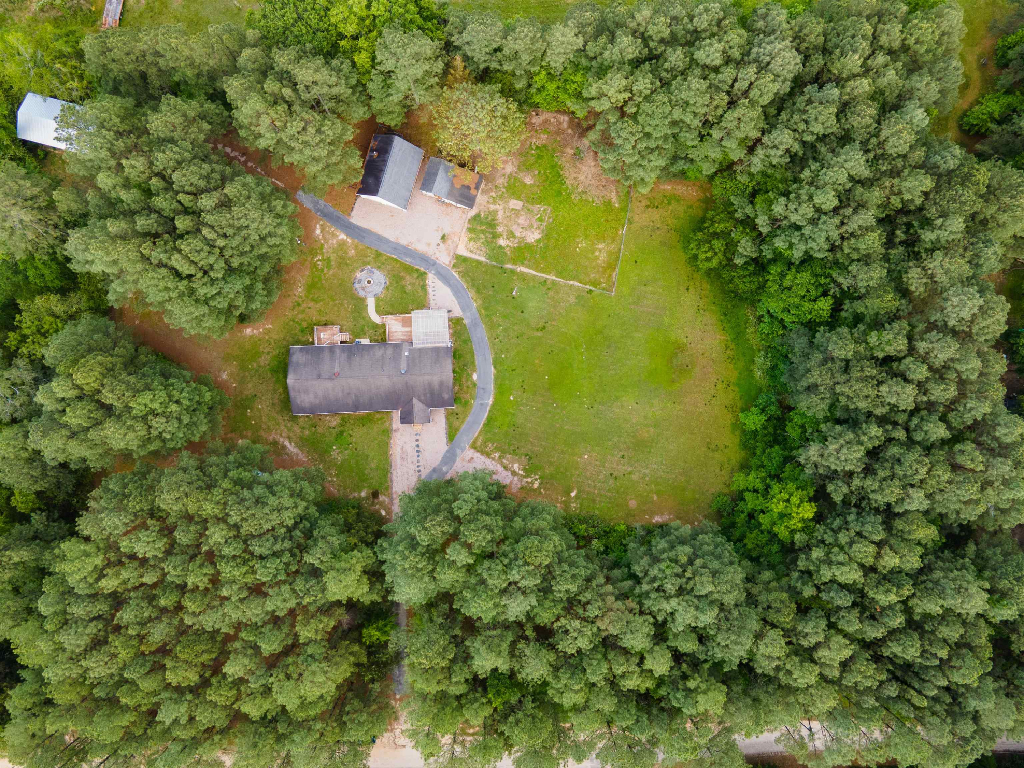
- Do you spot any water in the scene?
No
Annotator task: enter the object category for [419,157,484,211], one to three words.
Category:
shed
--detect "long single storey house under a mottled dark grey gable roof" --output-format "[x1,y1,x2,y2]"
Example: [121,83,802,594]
[287,339,455,429]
